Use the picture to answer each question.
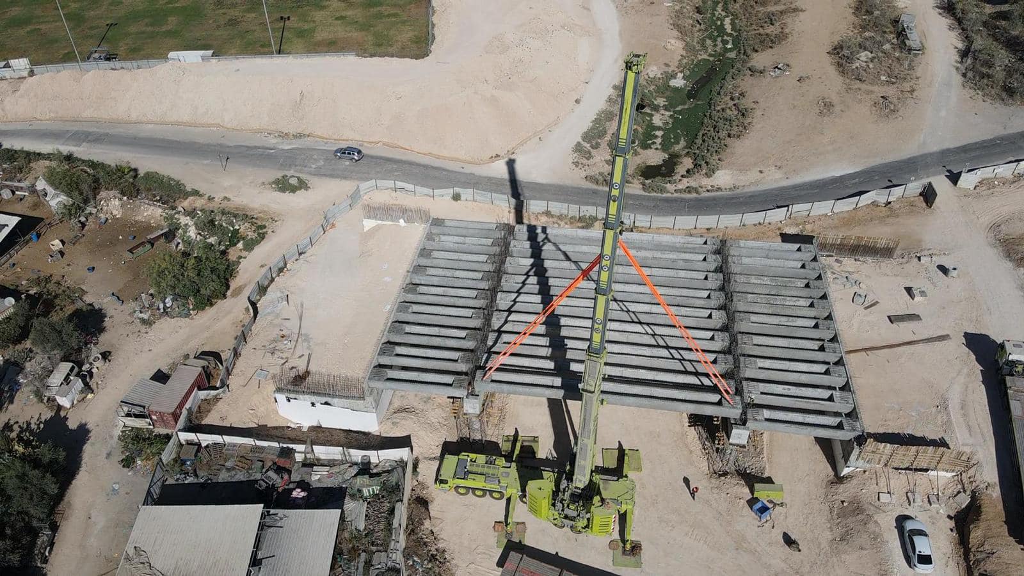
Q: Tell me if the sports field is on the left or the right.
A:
left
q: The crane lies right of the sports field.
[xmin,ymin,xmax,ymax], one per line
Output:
[428,49,651,556]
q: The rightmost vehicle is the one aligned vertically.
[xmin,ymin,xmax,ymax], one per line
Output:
[995,339,1024,499]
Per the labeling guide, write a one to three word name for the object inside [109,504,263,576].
shed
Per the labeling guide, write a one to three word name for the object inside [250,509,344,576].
shed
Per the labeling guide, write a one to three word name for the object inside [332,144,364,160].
car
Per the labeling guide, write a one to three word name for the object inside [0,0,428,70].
sports field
